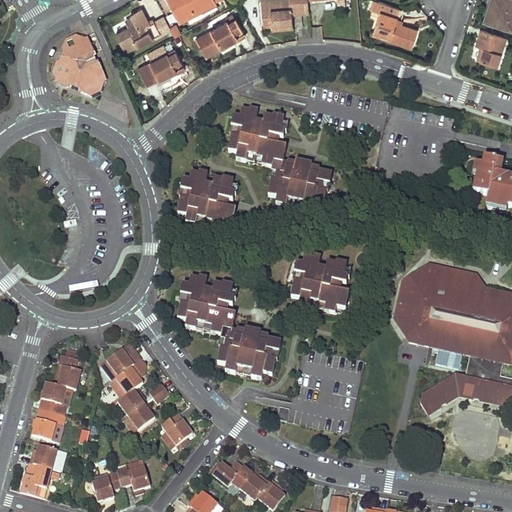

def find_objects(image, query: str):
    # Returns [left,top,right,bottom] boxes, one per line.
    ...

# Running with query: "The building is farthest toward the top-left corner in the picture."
[52,32,106,97]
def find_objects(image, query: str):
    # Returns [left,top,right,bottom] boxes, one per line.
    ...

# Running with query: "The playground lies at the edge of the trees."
[450,406,512,466]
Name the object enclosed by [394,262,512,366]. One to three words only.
building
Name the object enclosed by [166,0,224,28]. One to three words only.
house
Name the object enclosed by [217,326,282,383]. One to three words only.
building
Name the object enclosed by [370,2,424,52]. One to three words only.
house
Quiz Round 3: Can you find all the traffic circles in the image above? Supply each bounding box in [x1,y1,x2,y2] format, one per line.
[0,100,169,340]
